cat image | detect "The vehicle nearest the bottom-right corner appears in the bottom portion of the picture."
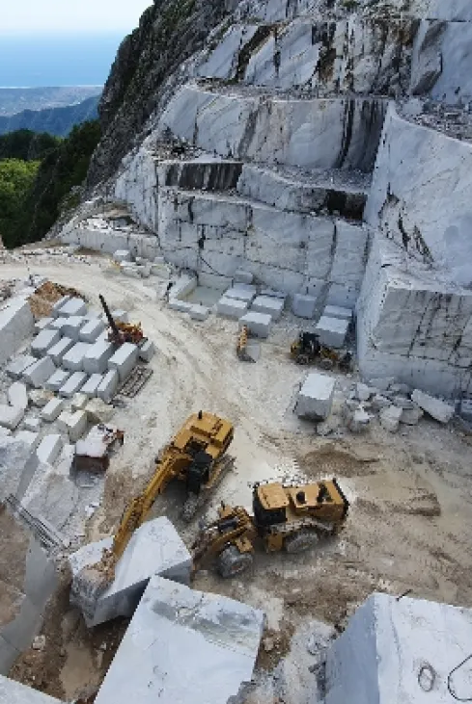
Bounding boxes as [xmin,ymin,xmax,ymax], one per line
[191,472,355,592]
